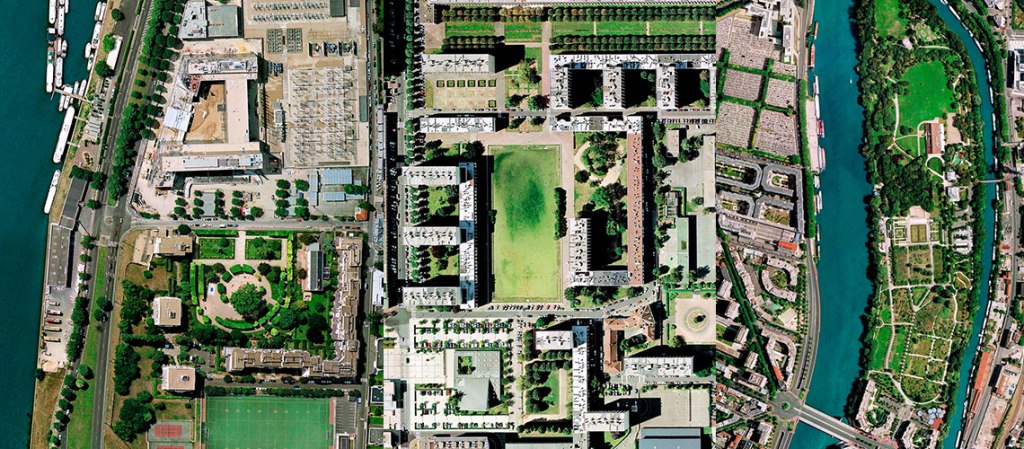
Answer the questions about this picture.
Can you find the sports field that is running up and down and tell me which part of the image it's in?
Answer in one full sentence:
Look in the center portion of the view to spot the sports field that is running up and down.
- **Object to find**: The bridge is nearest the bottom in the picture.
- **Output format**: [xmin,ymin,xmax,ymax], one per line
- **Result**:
[797,405,897,449]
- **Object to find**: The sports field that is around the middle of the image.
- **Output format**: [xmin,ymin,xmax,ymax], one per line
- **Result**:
[491,145,561,305]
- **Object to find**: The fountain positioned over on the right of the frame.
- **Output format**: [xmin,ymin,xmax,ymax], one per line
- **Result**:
[686,309,708,331]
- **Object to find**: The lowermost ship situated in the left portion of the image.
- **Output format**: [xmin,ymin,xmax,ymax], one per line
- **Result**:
[44,169,60,214]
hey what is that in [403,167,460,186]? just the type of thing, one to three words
building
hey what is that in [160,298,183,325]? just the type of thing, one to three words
house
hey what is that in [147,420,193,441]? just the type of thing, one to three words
tennis court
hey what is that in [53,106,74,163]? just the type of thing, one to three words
ship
